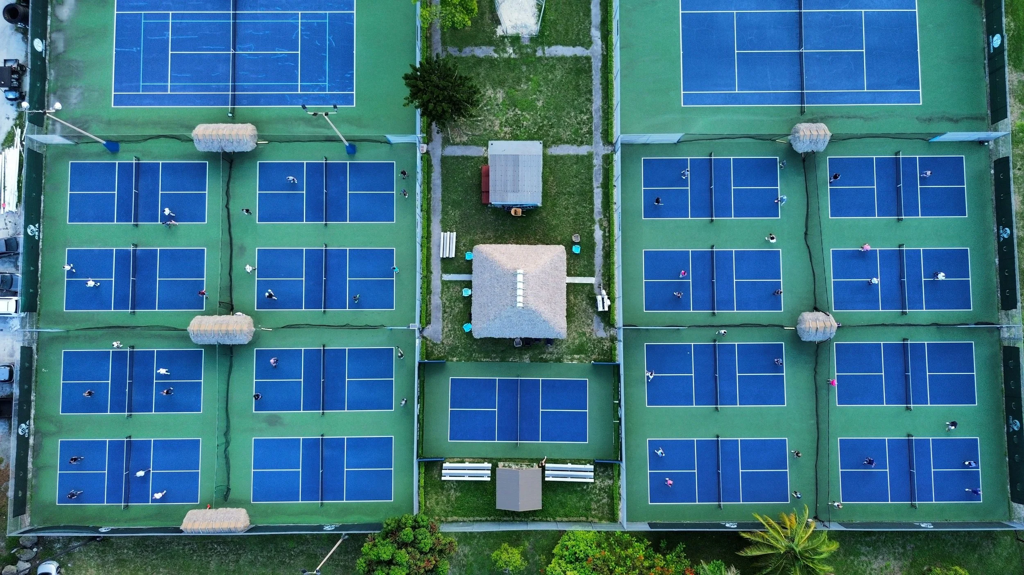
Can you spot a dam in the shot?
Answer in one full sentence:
No, I can't see a single dam in this photo.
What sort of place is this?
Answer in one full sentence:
The area seen from above is a sports ground.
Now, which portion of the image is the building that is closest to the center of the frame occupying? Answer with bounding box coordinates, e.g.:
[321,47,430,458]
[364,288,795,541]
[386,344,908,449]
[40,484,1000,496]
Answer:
[471,244,568,340]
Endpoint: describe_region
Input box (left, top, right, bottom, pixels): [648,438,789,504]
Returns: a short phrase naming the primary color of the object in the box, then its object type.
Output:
blue sports court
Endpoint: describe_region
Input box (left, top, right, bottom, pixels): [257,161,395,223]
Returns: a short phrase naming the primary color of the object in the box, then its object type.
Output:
blue sports court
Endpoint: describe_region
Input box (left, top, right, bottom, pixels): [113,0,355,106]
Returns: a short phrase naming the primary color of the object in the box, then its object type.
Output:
blue tennis court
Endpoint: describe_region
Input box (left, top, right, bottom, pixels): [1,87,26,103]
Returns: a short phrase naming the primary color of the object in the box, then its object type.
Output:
blue work vehicle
